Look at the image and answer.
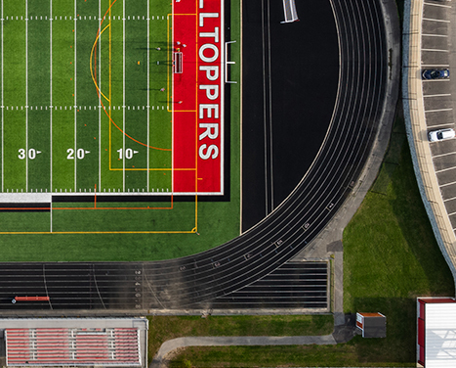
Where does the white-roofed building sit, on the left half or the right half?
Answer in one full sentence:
You can find the white-roofed building on the right side of the picture.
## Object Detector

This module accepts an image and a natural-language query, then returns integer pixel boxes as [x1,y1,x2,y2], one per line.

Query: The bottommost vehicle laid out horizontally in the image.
[428,128,456,142]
